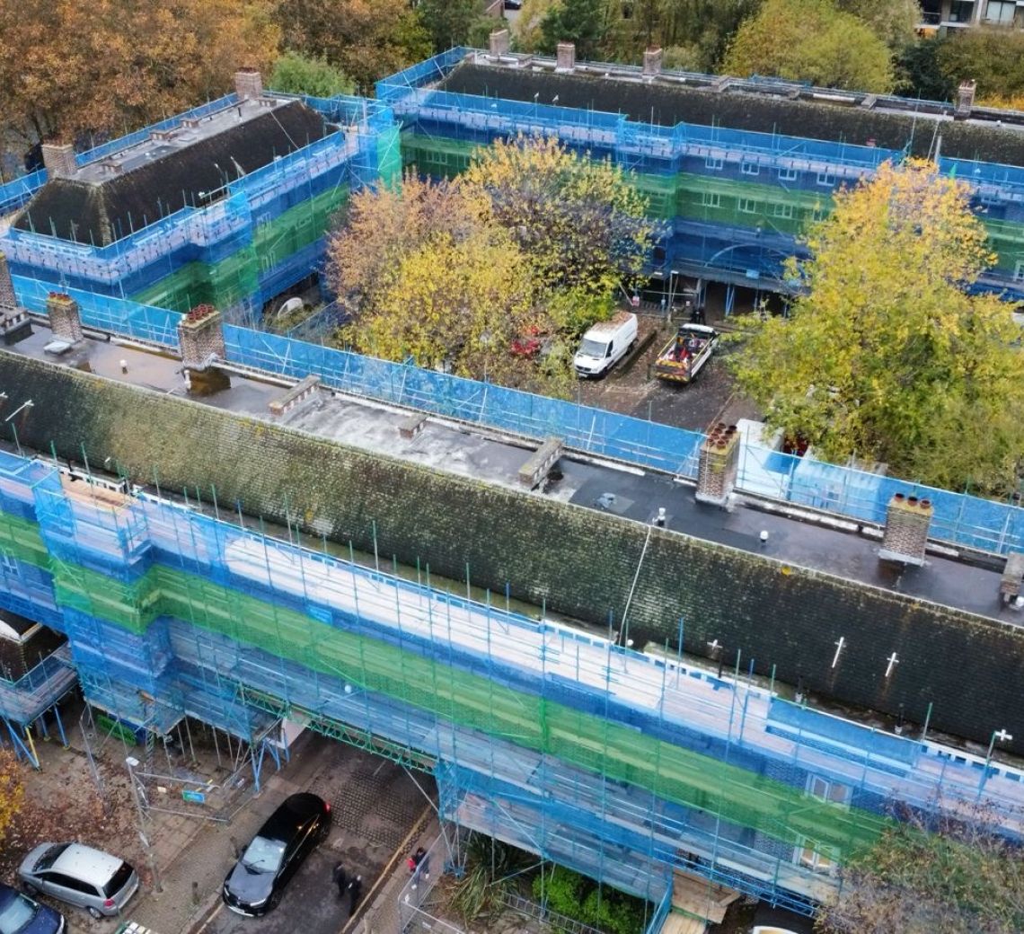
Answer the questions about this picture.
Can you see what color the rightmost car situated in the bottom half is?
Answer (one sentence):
The rightmost car situated in the bottom half is black.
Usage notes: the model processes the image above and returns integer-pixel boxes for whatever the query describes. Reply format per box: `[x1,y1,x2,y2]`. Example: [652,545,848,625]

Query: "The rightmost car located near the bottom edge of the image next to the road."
[228,791,341,908]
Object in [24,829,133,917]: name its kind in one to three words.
car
